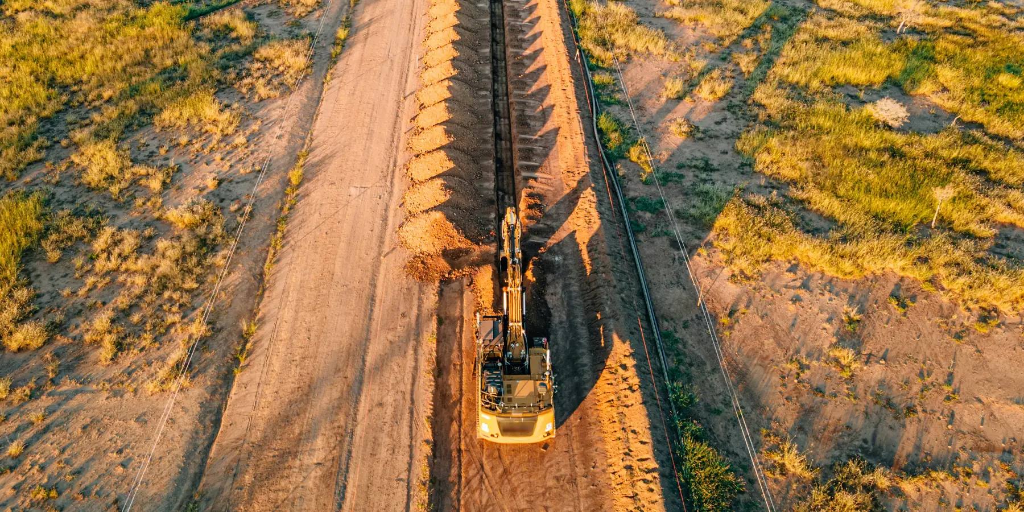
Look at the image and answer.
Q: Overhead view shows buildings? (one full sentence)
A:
No, the scene contains no building.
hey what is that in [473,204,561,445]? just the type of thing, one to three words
work vehicle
